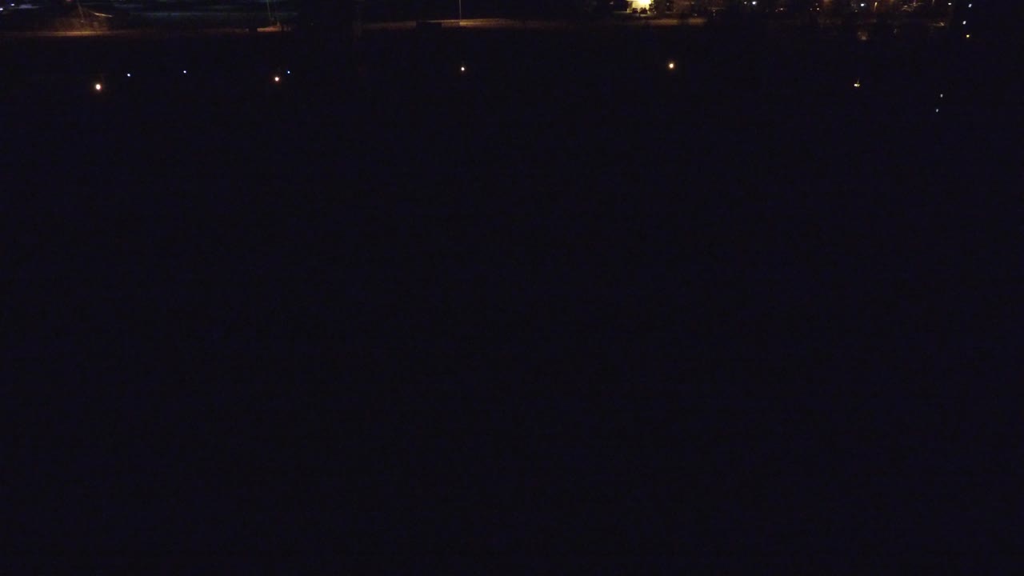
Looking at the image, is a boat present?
Yes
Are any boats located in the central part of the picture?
No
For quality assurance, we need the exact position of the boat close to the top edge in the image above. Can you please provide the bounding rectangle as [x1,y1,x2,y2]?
[929,4,977,63]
